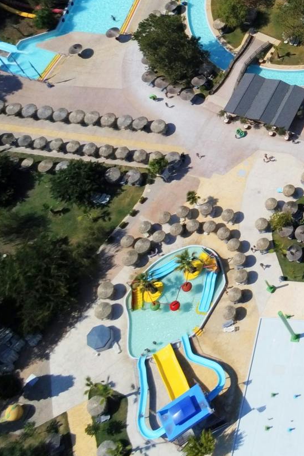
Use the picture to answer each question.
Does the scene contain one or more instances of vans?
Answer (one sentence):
No, the frame has no van in it.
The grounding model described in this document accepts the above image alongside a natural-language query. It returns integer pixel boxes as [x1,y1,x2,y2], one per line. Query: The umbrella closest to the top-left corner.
[68,43,85,56]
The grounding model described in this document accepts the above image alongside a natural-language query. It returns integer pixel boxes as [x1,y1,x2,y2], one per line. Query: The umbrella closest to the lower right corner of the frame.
[222,304,239,322]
